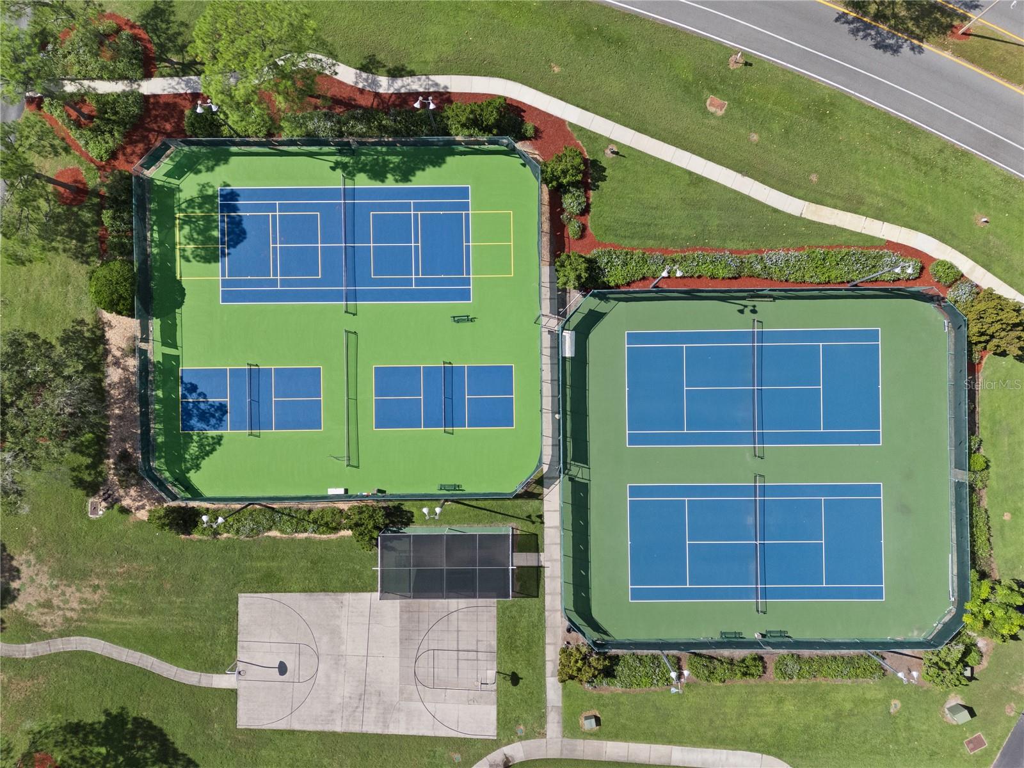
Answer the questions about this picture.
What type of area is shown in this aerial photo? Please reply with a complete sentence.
This image shows a sports ground.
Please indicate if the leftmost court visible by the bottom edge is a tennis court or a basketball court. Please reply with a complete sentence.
The leftmost court visible by the bottom edge in the image is a basketball court.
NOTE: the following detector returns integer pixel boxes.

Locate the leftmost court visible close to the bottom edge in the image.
[237,593,497,739]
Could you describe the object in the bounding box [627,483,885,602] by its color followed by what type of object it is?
blue tennis court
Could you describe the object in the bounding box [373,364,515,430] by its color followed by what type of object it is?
blue sports court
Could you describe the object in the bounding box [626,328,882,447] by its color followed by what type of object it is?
blue tennis court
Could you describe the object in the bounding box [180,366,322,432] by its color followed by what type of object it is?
blue sports court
